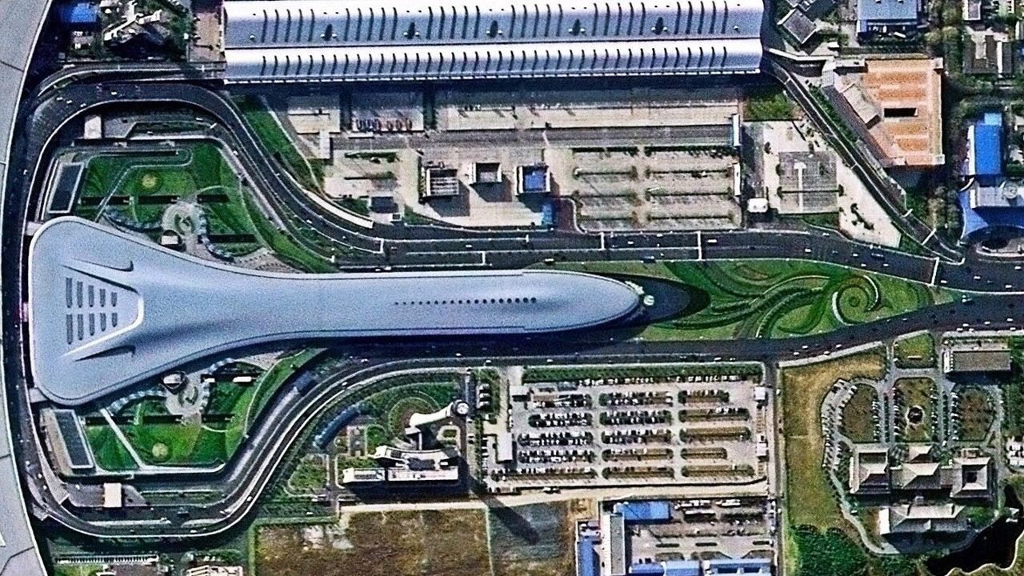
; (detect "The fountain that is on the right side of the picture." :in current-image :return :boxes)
[907,406,924,424]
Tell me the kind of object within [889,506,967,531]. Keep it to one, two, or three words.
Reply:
building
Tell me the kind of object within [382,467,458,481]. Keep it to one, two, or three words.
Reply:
building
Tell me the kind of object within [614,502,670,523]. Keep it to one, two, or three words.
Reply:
shed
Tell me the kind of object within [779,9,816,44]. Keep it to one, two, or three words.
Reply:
house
